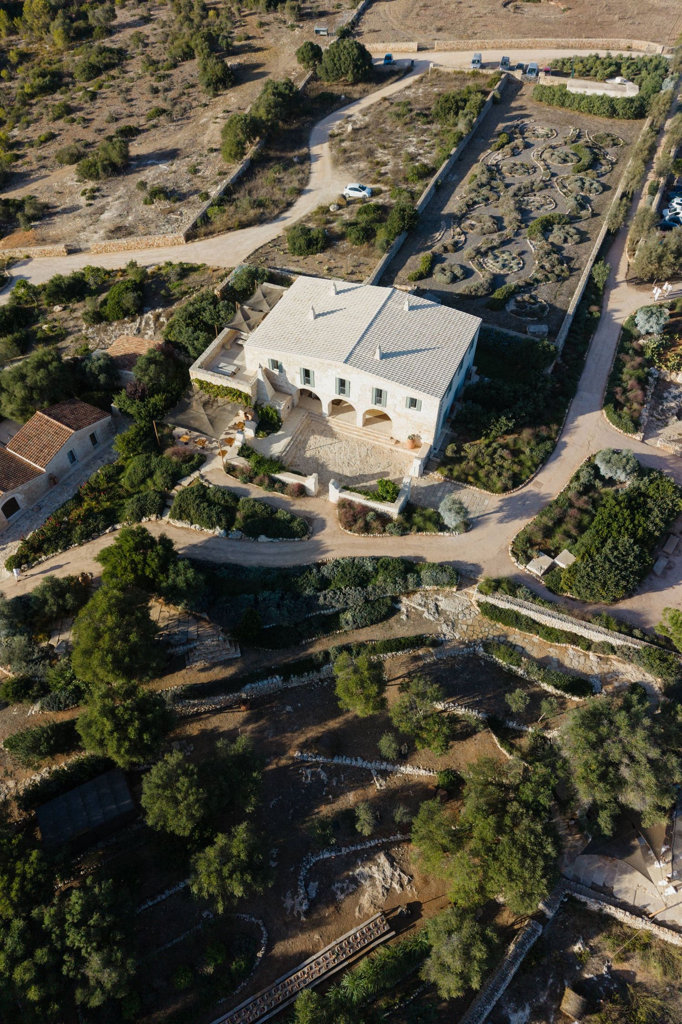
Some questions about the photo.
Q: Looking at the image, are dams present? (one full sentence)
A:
No, I can't see a single dam in this photo.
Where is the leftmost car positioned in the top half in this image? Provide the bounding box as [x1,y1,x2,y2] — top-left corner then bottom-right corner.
[345,184,371,199]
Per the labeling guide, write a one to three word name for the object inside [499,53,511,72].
vehicle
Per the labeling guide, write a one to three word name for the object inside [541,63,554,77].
vehicle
